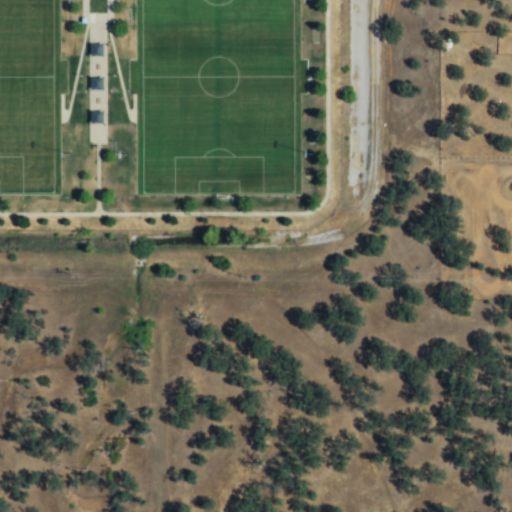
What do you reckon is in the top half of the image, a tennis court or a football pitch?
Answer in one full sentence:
What appears in the top half of the image is a football pitch.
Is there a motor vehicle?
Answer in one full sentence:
No, I find no motor vehicle anywhere in the image.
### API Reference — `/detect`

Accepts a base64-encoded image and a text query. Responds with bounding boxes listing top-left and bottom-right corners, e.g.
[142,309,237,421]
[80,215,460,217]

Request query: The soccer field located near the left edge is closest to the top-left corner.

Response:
[0,0,68,194]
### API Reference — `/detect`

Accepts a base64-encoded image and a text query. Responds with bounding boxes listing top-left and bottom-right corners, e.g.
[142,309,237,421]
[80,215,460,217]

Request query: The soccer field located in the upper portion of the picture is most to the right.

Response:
[130,0,308,195]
